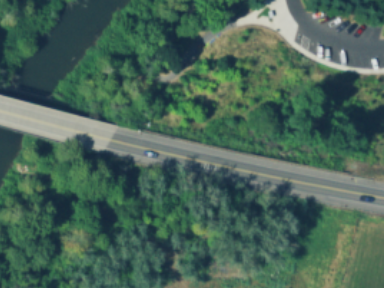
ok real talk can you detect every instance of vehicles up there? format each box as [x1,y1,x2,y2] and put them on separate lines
[362,196,373,202]
[329,18,342,28]
[317,46,323,58]
[356,26,365,36]
[341,51,346,64]
[146,152,157,158]
[372,59,378,69]
[326,48,330,60]
[348,24,358,34]
[338,22,348,32]
[313,14,324,20]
